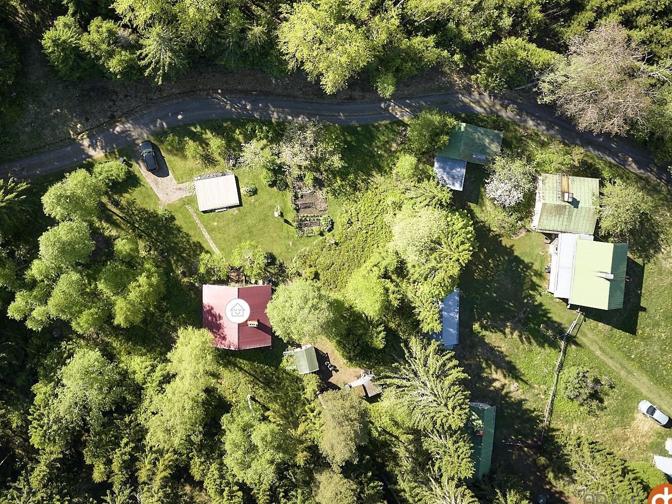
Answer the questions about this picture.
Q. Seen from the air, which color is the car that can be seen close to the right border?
white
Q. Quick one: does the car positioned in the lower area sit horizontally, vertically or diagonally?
diagonally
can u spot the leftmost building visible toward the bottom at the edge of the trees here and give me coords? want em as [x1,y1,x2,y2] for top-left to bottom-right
[203,284,271,350]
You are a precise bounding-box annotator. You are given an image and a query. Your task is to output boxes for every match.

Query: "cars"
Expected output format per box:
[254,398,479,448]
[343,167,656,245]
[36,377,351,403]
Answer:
[139,140,157,173]
[640,401,671,427]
